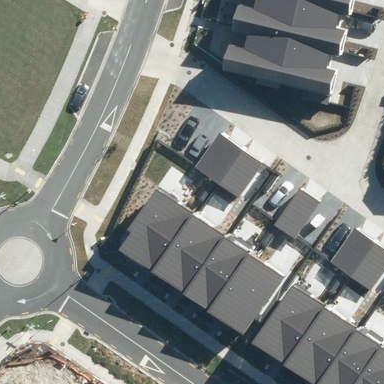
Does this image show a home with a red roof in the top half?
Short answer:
No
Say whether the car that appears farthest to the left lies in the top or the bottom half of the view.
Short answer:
top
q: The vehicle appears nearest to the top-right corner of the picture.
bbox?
[343,17,376,34]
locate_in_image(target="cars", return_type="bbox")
[188,134,208,160]
[266,180,291,210]
[68,84,89,114]
[343,17,376,34]
[176,117,197,150]
[322,223,348,255]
